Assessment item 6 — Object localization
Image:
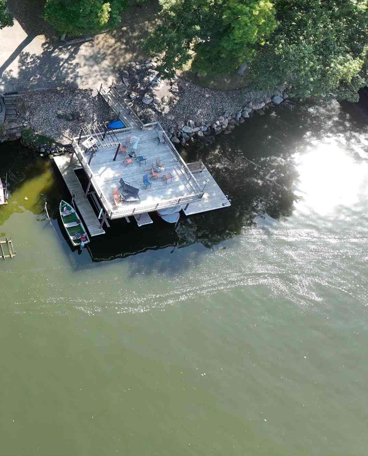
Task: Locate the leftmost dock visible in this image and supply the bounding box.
[53,152,106,241]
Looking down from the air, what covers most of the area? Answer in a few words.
water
